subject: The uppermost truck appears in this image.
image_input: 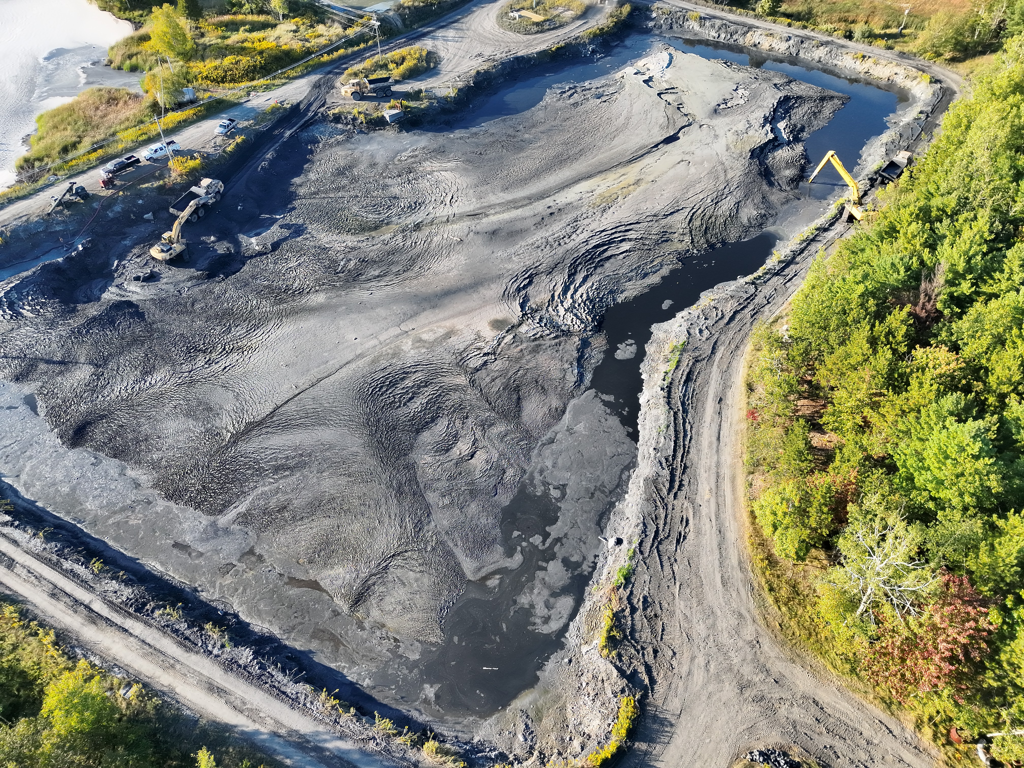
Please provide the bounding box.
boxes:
[342,74,398,102]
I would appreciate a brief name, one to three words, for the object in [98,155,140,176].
truck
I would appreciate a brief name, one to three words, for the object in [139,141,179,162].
truck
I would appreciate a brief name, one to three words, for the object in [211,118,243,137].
vehicle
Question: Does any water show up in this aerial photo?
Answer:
Yes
